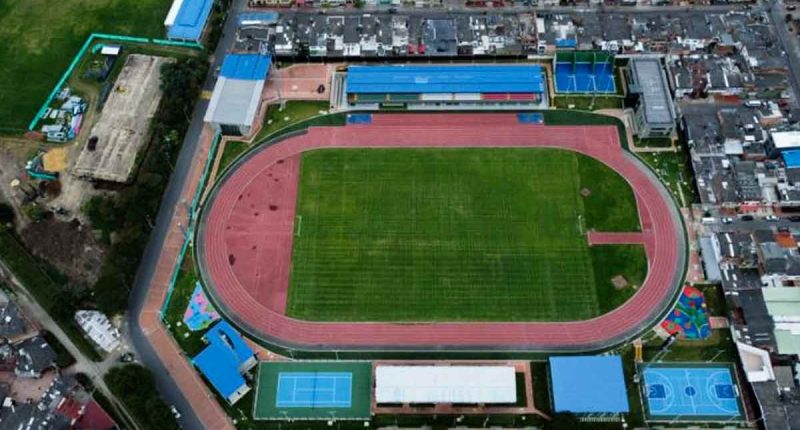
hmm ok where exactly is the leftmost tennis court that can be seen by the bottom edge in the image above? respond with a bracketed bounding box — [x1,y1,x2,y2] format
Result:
[254,362,372,419]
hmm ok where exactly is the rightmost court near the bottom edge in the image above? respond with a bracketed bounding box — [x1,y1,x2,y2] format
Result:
[637,364,747,421]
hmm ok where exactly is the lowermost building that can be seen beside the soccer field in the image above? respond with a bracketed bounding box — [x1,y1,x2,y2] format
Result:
[376,366,516,407]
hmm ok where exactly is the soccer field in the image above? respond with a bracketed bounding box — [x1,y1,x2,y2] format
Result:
[287,146,649,322]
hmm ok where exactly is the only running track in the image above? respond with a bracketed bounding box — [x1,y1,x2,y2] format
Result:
[192,108,691,360]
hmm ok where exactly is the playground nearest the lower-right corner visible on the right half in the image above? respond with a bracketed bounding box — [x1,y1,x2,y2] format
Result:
[662,287,710,339]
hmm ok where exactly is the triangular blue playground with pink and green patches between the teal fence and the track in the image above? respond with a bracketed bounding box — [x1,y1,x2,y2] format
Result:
[184,282,220,331]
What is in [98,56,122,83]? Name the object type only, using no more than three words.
shed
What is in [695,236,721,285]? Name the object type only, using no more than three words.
shed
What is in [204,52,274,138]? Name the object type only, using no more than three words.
building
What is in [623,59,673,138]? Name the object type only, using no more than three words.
building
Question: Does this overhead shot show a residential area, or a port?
residential area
